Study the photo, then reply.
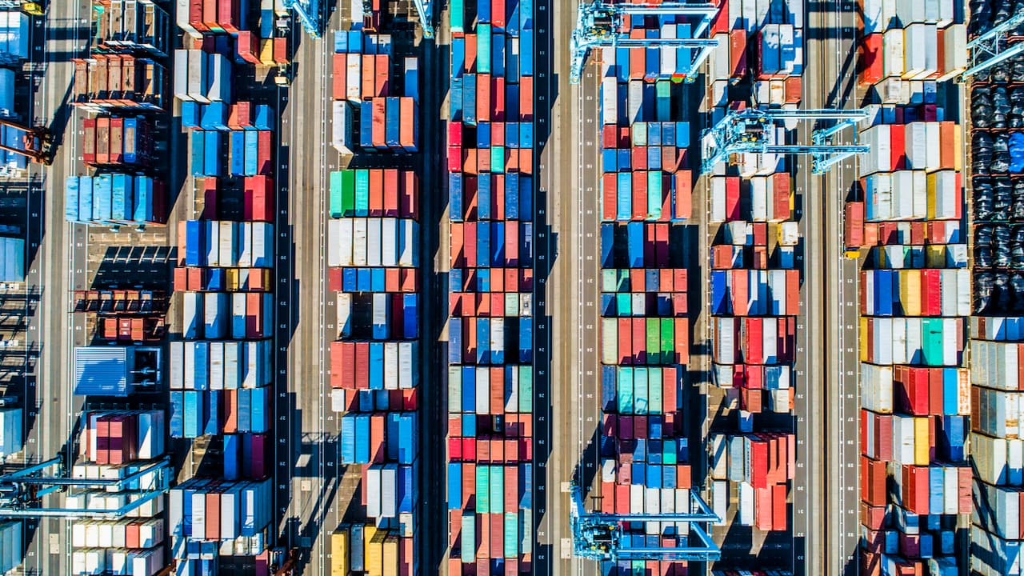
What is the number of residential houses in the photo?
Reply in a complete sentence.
The picture shows 1 residential house.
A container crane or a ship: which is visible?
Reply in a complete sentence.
The one in the frame is a container crane.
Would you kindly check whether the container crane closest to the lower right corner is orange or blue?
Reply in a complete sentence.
The container crane closest to the lower right corner is blue.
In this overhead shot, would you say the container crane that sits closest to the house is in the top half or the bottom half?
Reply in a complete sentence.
You can find the container crane that sits closest to the house in the bottom half.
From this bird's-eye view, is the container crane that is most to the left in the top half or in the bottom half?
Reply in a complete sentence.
The container crane that is most to the left is in the top half of the image.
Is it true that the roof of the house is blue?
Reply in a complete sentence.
Yes, blue is the color of the roof of the house.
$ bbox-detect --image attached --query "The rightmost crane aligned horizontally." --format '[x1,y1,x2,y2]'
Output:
[700,97,875,175]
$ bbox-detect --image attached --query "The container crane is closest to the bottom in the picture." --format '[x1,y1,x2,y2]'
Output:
[121,545,296,576]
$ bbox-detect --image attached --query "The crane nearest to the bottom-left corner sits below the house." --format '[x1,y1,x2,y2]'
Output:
[0,448,168,535]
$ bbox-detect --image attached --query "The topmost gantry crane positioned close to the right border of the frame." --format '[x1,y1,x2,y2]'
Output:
[962,11,1024,86]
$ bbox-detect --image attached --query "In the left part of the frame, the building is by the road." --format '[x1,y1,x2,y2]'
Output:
[72,350,134,395]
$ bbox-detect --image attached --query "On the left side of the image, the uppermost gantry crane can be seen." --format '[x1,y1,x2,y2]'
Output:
[271,0,431,43]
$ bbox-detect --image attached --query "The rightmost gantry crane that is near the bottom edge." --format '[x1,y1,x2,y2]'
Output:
[567,478,725,573]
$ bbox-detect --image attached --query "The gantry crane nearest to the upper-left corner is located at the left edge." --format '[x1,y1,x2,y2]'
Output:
[0,112,50,169]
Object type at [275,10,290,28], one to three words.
vehicle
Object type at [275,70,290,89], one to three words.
vehicle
